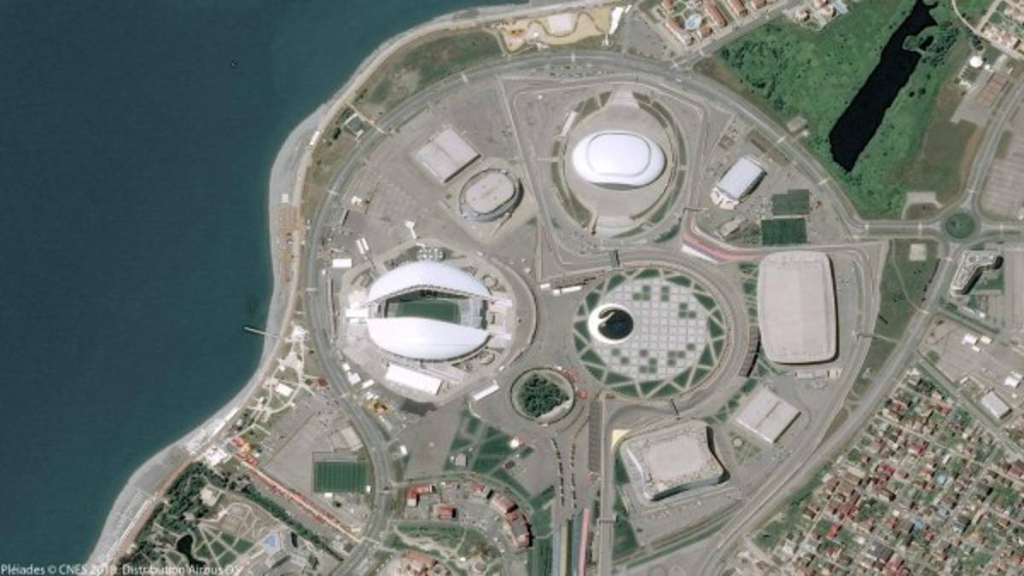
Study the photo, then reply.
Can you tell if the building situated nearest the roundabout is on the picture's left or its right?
right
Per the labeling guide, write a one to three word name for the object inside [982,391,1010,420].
building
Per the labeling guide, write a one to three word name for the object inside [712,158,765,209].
building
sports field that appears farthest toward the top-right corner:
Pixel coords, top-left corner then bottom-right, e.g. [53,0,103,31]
[773,189,809,215]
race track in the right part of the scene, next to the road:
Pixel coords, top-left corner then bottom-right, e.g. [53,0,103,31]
[499,69,873,576]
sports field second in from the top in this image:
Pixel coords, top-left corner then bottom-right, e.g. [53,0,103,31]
[762,218,807,245]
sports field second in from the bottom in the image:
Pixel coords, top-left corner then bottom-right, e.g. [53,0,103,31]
[395,299,461,324]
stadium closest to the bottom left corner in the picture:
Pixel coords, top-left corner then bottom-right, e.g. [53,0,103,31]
[346,261,512,362]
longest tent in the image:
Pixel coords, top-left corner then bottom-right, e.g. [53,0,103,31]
[386,365,443,396]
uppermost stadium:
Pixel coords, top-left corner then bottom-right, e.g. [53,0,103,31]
[574,130,665,188]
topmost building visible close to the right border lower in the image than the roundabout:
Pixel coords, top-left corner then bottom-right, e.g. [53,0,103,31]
[950,250,999,297]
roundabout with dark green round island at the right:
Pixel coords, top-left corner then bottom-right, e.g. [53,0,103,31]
[936,204,983,247]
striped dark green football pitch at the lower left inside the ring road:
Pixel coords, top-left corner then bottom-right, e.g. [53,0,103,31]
[313,462,369,494]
